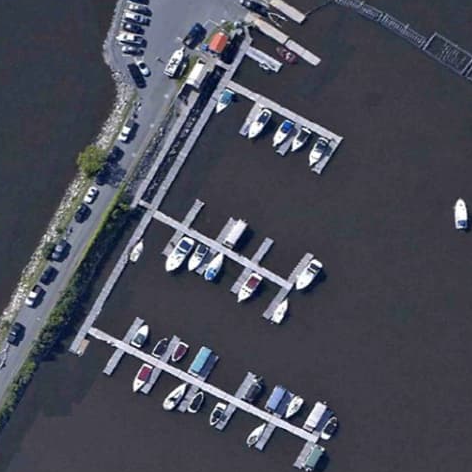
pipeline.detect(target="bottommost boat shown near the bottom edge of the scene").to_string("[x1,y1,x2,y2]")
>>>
[303,444,324,472]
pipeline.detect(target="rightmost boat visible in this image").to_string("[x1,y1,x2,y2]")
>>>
[453,198,467,231]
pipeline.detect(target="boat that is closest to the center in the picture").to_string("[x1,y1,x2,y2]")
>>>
[225,219,246,249]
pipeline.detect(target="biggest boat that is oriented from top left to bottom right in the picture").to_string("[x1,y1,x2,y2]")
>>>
[277,48,297,65]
